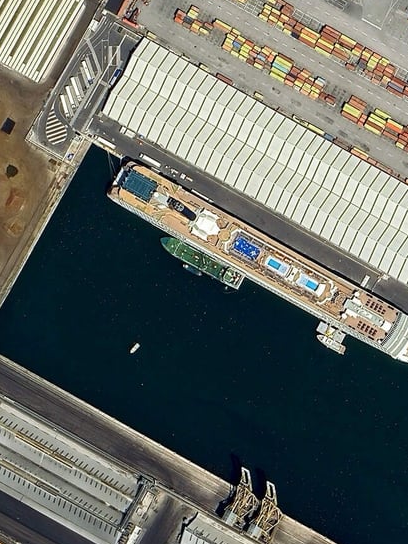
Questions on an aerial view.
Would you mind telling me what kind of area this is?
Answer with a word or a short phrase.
port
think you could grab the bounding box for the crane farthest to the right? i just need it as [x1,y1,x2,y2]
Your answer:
[251,478,289,537]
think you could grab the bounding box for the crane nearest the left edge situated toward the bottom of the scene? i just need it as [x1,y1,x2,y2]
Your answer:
[226,465,262,524]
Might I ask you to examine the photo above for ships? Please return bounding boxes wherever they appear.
[114,160,408,366]
[160,237,247,290]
